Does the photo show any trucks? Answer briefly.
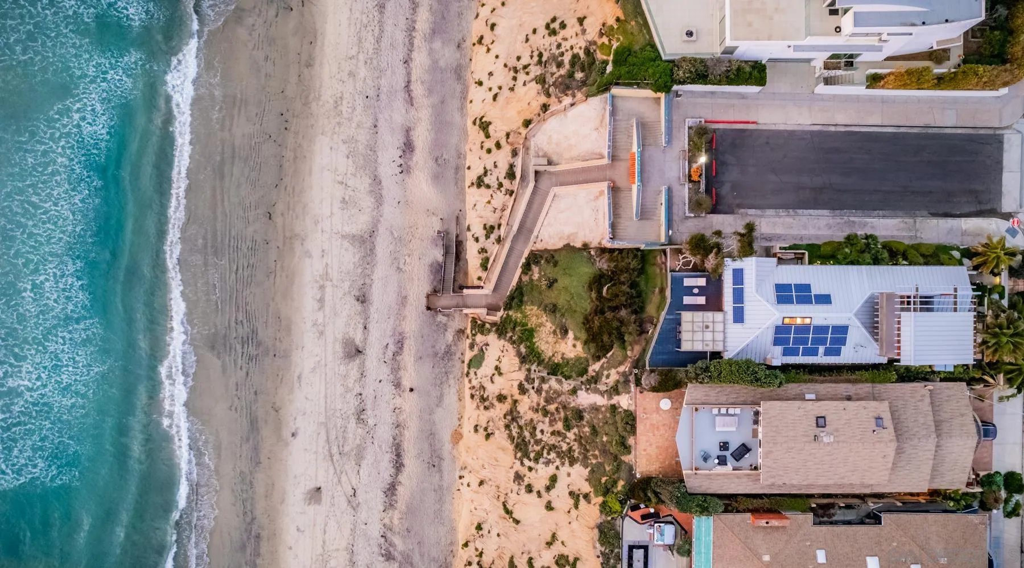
No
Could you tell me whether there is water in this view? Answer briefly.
Yes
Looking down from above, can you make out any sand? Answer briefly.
Yes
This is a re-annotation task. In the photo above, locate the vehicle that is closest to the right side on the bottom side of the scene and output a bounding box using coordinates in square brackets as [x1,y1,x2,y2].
[979,420,996,441]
